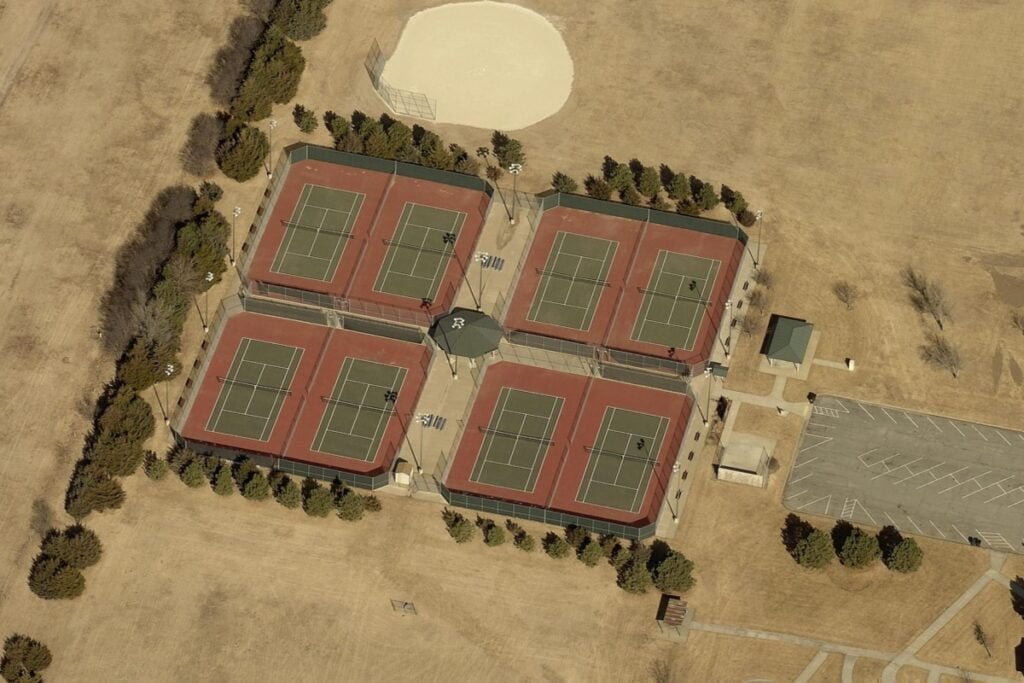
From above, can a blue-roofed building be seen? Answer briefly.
No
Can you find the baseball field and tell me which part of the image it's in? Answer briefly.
top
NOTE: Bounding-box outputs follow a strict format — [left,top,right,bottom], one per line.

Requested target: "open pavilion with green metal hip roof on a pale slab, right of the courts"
[767,317,814,371]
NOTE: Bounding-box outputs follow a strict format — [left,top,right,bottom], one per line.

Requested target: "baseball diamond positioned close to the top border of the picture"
[377,0,573,131]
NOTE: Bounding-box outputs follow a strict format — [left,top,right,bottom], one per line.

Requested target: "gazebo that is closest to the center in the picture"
[435,310,504,366]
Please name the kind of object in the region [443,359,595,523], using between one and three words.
tennis court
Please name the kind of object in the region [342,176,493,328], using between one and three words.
tennis court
